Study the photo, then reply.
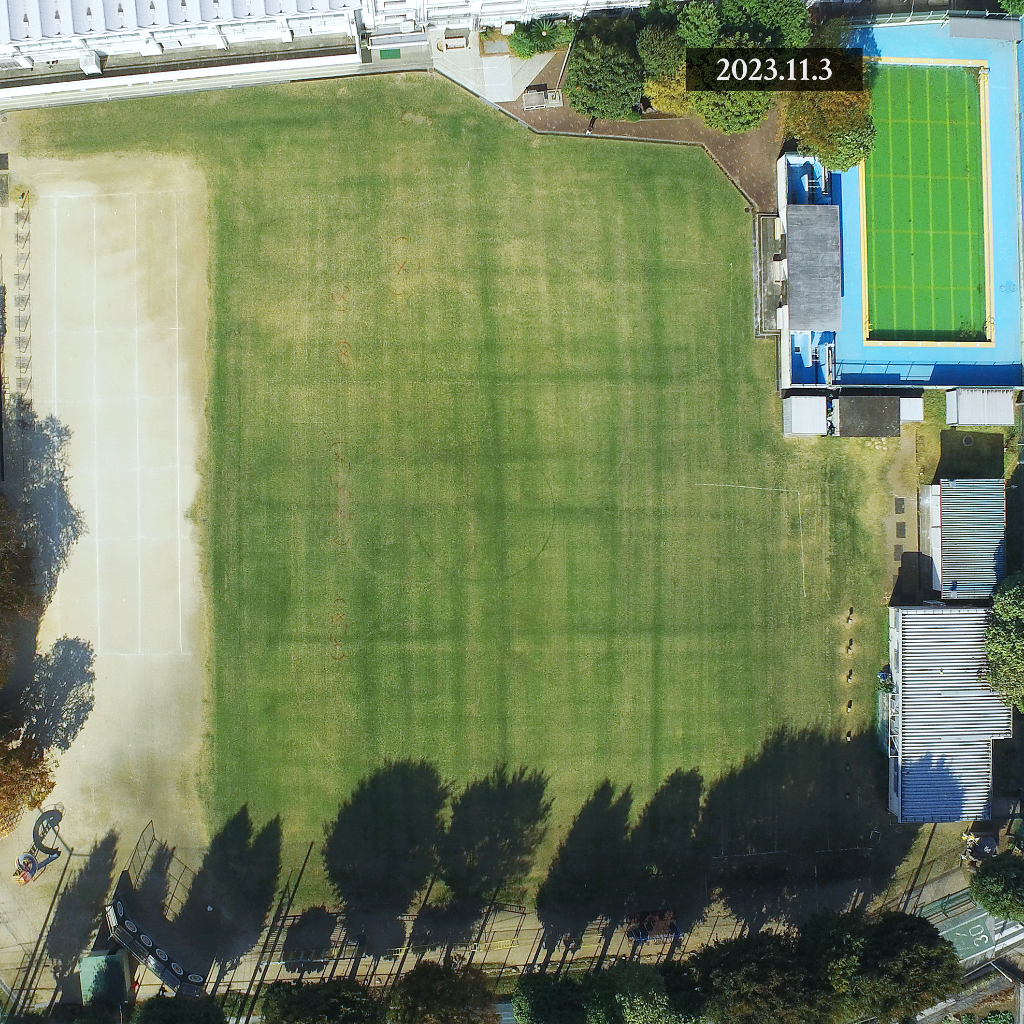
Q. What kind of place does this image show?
sports ground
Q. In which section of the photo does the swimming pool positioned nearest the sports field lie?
top right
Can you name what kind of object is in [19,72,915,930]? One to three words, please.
sports field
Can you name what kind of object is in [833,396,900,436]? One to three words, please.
shed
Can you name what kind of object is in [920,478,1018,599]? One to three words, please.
building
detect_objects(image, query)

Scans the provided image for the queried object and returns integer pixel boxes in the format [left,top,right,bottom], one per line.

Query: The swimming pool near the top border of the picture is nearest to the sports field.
[782,18,1024,389]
